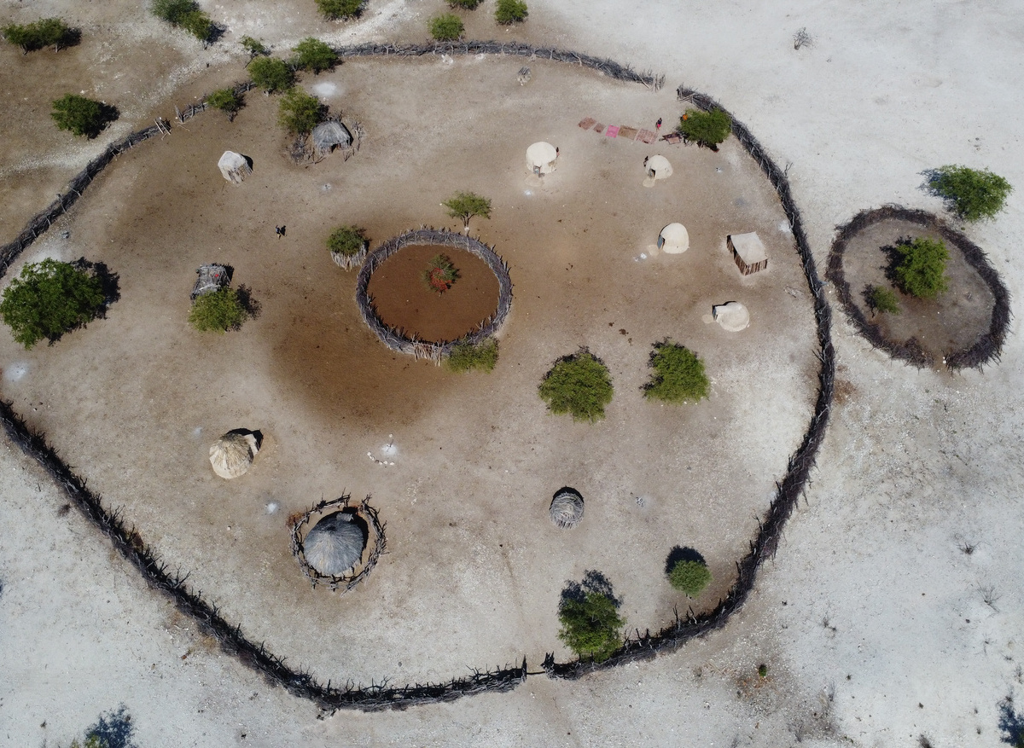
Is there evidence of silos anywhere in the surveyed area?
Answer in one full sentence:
No, the photo shows no silo.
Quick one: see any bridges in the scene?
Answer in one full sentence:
No, no bridge can be seen from above.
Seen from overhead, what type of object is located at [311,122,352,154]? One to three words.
shed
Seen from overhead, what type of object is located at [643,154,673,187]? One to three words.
shed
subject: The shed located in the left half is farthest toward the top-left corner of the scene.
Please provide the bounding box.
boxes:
[219,151,253,184]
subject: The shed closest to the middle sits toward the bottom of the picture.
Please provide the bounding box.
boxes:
[549,489,583,529]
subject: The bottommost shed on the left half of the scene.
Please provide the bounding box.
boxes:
[305,513,363,577]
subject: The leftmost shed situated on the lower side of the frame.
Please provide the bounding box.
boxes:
[205,434,274,479]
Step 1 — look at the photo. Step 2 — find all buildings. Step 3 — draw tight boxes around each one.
[205,434,274,479]
[219,151,253,184]
[725,232,767,275]
[703,303,751,333]
[651,225,691,256]
[643,154,673,187]
[311,122,352,154]
[305,513,363,577]
[524,147,555,183]
[549,489,583,529]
